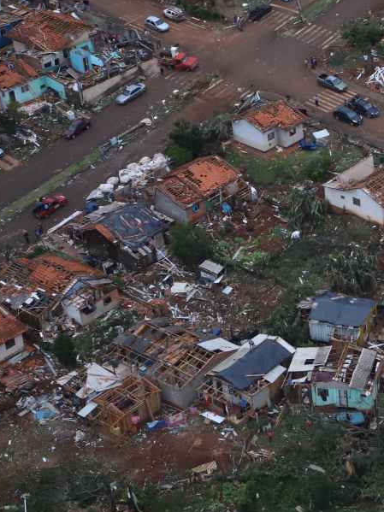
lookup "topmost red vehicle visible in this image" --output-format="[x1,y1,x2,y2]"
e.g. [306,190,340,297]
[161,49,204,68]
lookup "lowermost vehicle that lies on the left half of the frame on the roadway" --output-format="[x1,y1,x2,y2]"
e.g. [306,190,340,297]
[33,193,70,215]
